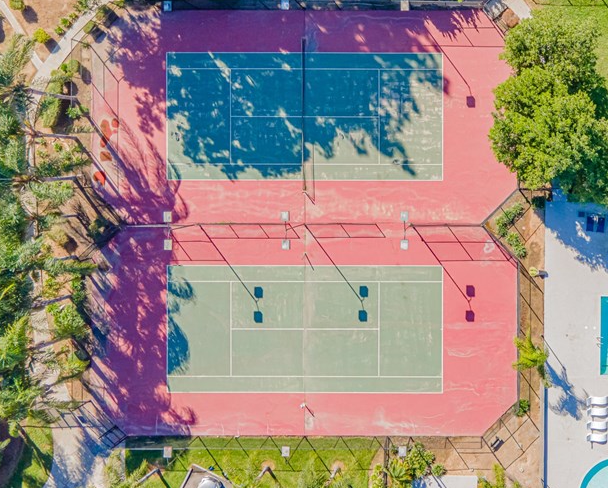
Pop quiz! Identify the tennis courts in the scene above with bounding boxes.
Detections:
[91,10,519,225]
[89,224,518,436]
